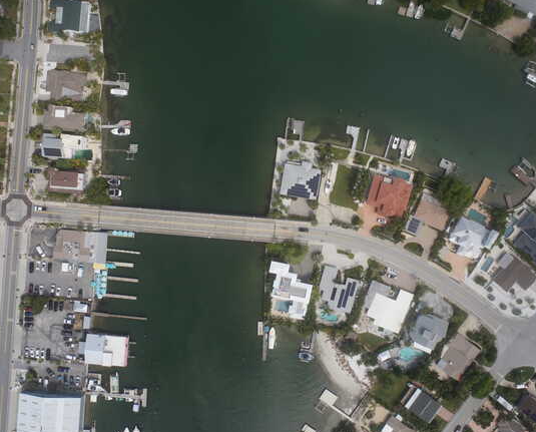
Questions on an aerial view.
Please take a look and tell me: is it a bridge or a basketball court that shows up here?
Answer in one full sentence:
It is a bridge that can be seen here.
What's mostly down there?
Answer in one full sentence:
The bulk of the photo consists of water.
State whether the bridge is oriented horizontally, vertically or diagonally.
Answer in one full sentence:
What the image shows is the bridge lying horizontally.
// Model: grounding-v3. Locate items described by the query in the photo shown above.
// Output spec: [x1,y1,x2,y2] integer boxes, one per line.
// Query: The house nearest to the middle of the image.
[280,161,320,200]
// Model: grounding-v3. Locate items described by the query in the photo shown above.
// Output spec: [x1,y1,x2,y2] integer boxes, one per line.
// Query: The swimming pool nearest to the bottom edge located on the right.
[398,347,425,363]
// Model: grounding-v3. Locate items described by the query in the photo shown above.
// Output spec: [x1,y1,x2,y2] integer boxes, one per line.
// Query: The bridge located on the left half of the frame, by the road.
[107,205,267,242]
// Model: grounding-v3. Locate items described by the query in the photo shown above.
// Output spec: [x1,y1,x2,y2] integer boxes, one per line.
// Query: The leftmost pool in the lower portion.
[275,299,293,313]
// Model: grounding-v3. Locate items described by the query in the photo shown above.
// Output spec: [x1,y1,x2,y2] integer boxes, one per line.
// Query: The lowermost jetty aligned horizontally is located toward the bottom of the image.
[84,388,148,407]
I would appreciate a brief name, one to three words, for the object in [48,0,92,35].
house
